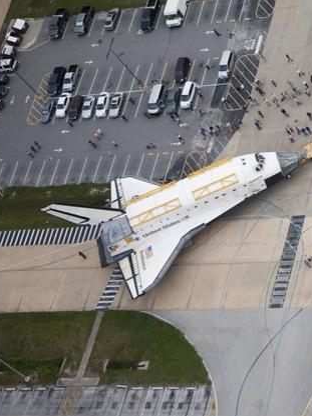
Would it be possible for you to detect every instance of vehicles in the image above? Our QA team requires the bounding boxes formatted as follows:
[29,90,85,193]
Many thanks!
[140,0,159,31]
[145,81,166,116]
[61,62,81,94]
[174,57,192,84]
[105,8,121,32]
[68,94,85,121]
[216,50,236,81]
[0,72,11,86]
[46,65,66,97]
[178,79,197,110]
[81,94,98,121]
[0,58,18,73]
[95,91,112,119]
[304,145,312,165]
[4,35,25,46]
[40,98,57,124]
[108,91,125,118]
[74,7,93,37]
[55,92,71,119]
[162,0,188,30]
[163,86,181,114]
[48,10,68,40]
[0,45,21,58]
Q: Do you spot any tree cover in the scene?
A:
No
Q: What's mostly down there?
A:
paved ground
